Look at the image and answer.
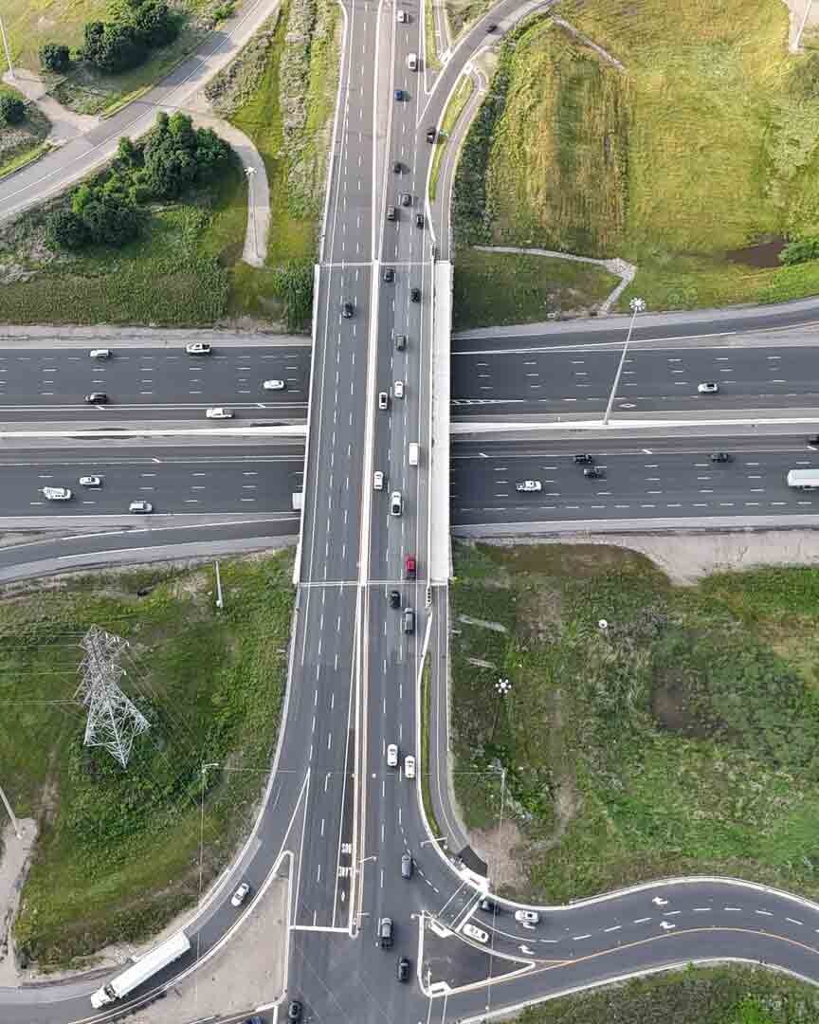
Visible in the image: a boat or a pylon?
pylon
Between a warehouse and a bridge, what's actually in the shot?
bridge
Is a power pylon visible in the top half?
No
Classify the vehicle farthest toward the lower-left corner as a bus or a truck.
truck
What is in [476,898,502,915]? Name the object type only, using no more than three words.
car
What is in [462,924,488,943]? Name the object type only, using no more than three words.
car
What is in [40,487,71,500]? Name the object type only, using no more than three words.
vehicle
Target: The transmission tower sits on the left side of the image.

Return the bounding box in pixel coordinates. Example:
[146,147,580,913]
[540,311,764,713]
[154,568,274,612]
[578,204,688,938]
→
[58,617,149,765]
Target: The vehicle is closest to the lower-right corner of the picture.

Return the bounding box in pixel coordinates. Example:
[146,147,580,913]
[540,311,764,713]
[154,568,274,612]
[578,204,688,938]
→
[515,910,540,924]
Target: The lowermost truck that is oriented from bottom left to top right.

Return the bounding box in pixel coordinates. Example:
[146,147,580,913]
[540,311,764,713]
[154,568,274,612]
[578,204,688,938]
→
[83,924,197,1013]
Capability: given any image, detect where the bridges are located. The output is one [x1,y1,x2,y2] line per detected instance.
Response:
[289,244,455,611]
